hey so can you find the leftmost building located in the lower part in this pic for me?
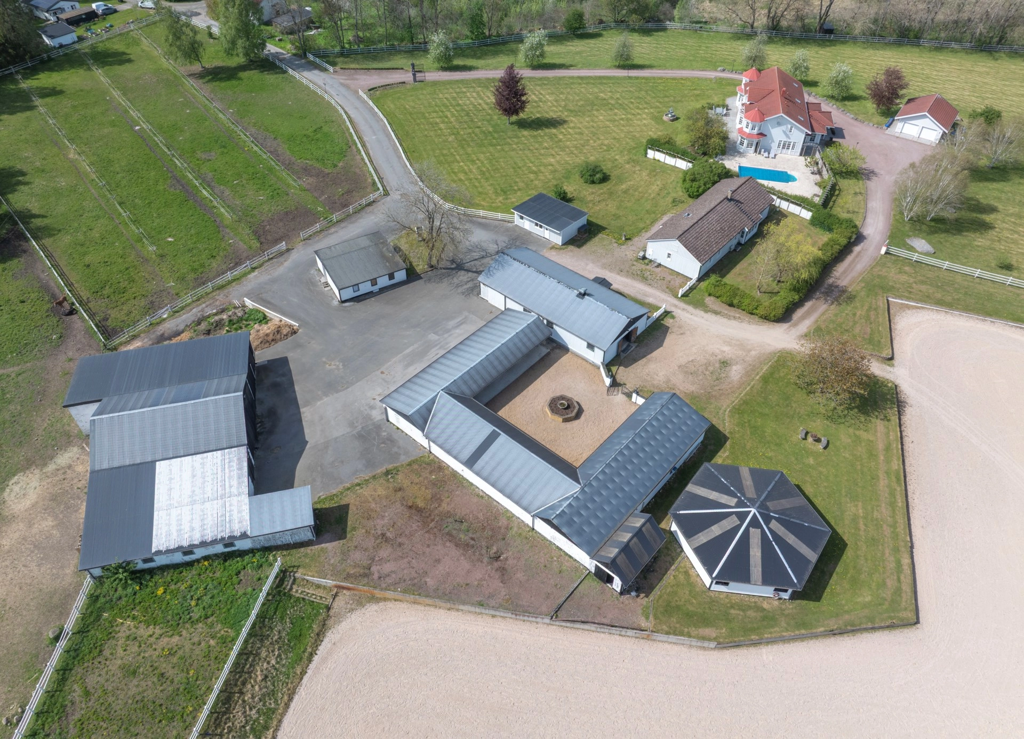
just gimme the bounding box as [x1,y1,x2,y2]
[58,330,257,585]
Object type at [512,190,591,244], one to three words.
shed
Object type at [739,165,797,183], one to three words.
swimming pool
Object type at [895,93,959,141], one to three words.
building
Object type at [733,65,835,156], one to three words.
house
